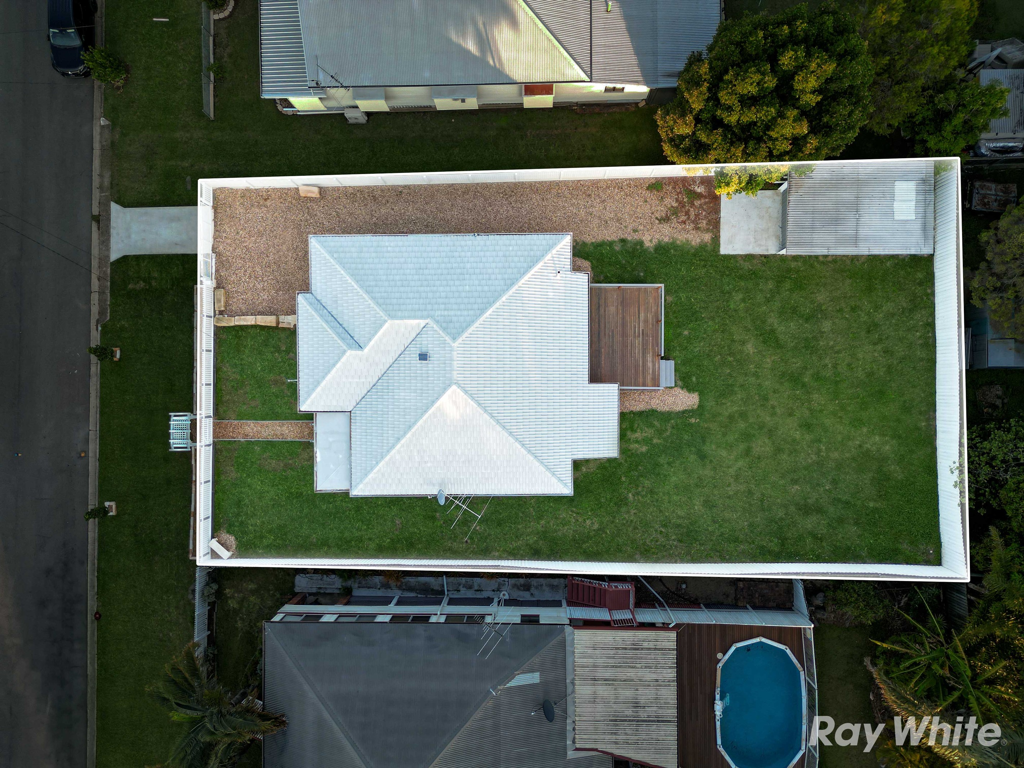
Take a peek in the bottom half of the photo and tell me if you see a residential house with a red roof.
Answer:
No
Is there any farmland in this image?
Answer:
No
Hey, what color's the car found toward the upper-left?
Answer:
black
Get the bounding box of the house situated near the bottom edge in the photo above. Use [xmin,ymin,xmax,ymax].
[262,575,612,768]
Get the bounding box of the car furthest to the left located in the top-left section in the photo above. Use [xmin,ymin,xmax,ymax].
[43,0,99,86]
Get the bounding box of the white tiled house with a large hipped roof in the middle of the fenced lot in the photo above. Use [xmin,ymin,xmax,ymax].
[295,232,621,498]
